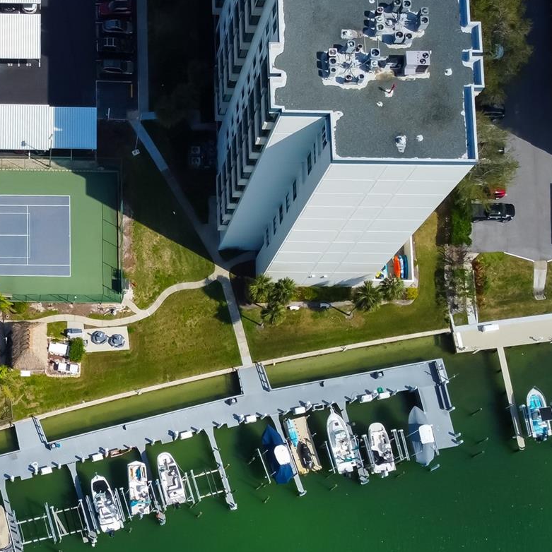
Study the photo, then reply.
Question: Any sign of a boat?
Yes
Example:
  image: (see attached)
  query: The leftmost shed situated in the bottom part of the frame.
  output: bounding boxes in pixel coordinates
[8,319,51,374]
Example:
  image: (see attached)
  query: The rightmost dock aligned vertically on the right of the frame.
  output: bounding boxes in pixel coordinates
[493,347,524,449]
